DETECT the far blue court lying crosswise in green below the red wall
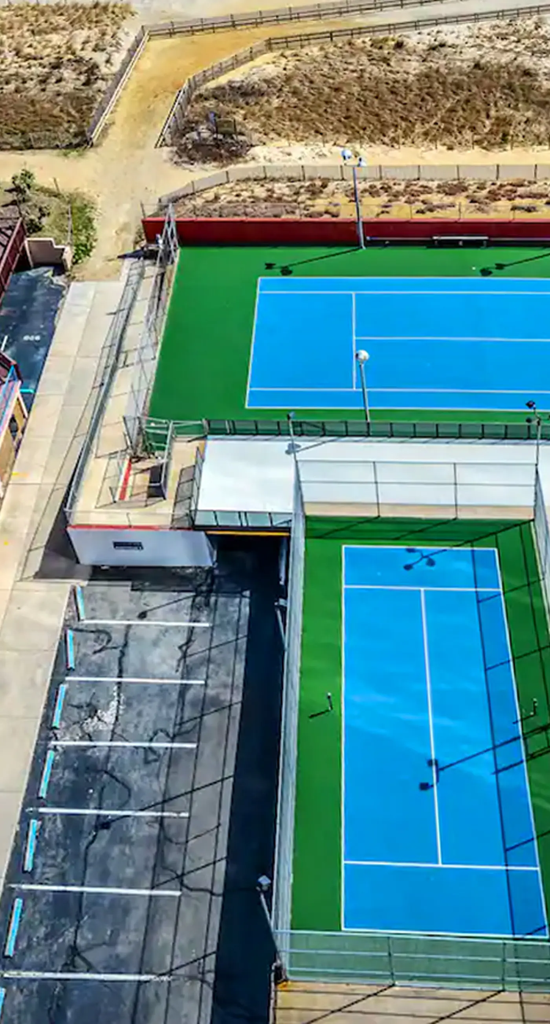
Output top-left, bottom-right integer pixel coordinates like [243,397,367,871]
[144,245,550,438]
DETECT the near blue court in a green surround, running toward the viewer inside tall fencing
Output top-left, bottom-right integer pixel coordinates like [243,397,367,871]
[294,516,550,991]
